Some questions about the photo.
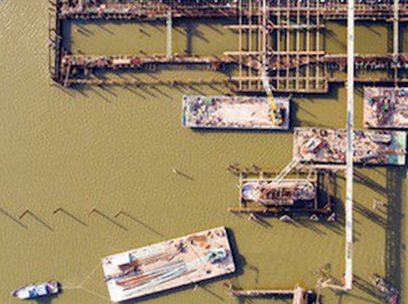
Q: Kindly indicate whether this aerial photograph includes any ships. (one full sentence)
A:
Yes, a ship appears in the view.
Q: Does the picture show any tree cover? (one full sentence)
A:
No, there is no tree cover in the image.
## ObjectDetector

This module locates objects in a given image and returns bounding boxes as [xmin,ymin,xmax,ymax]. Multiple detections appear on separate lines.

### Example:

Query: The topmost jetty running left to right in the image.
[229,165,337,218]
